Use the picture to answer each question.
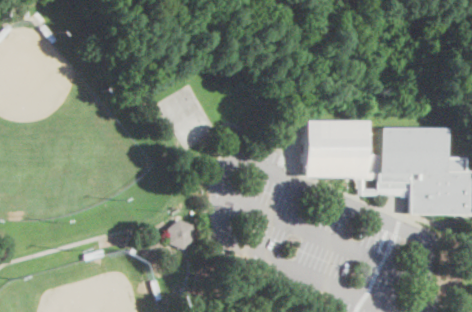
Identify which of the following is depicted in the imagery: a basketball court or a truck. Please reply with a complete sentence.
The image shows a basketball court.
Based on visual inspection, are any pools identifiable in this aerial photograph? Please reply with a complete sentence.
No, there appears to be no pool in this shot.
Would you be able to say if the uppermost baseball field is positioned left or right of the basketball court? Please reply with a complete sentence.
To the left of the basketball court is where the uppermost baseball field appears.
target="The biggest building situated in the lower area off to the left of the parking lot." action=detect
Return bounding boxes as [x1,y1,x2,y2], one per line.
[168,222,194,248]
